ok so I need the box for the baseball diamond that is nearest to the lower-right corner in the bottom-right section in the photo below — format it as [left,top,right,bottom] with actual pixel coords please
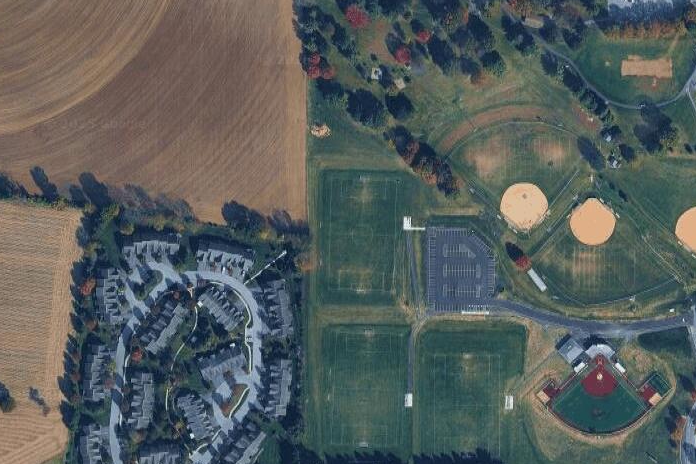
[543,353,659,436]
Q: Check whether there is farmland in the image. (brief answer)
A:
Yes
